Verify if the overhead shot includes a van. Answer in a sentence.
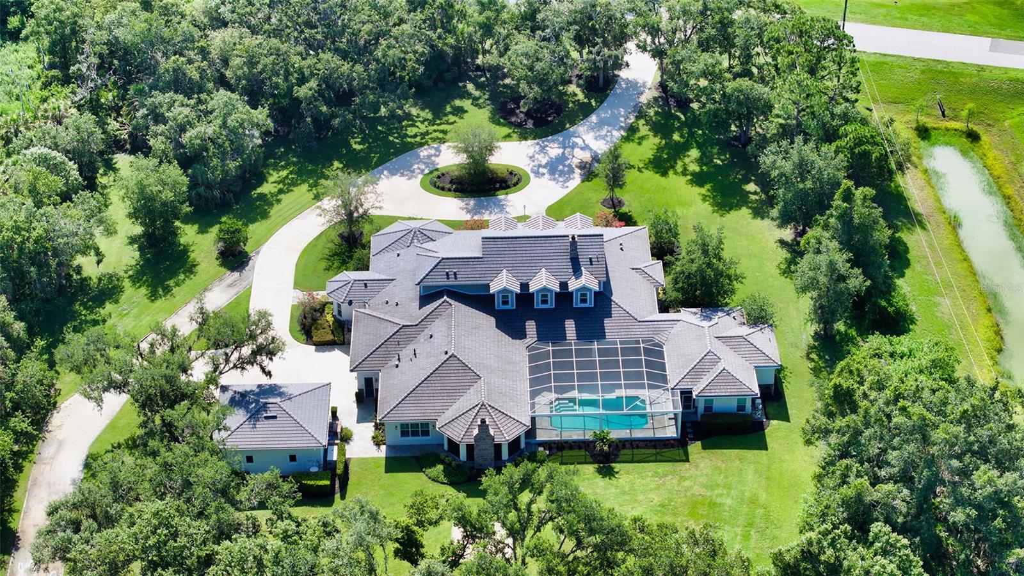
No, this view has no van in it.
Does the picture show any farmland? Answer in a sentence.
No, the picture contains no farmland.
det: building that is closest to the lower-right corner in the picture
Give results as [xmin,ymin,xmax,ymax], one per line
[325,212,781,473]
